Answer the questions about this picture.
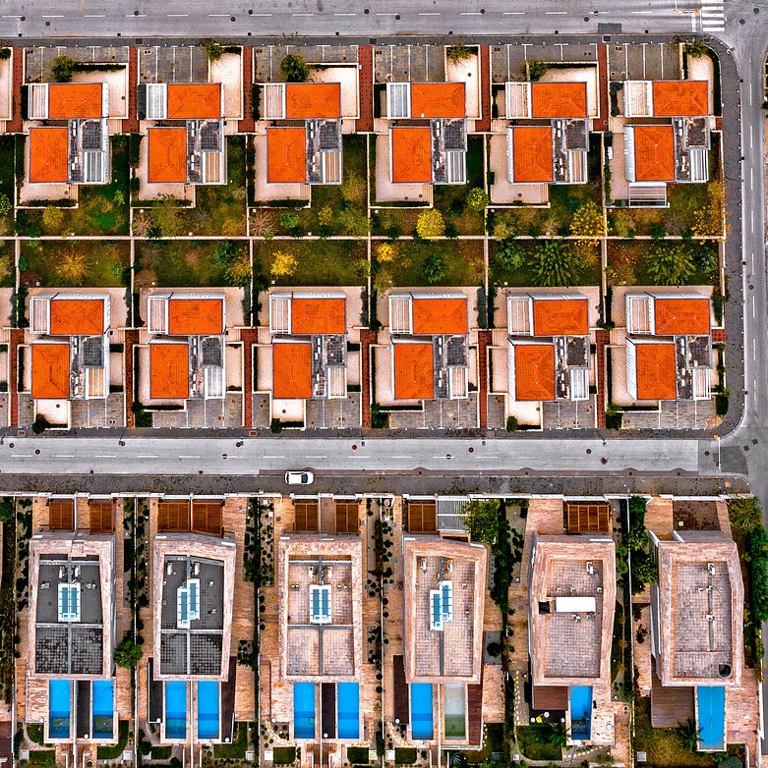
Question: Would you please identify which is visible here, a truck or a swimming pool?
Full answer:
Of the two, only a swimming pool appears.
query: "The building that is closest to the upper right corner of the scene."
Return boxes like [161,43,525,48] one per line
[607,81,709,203]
